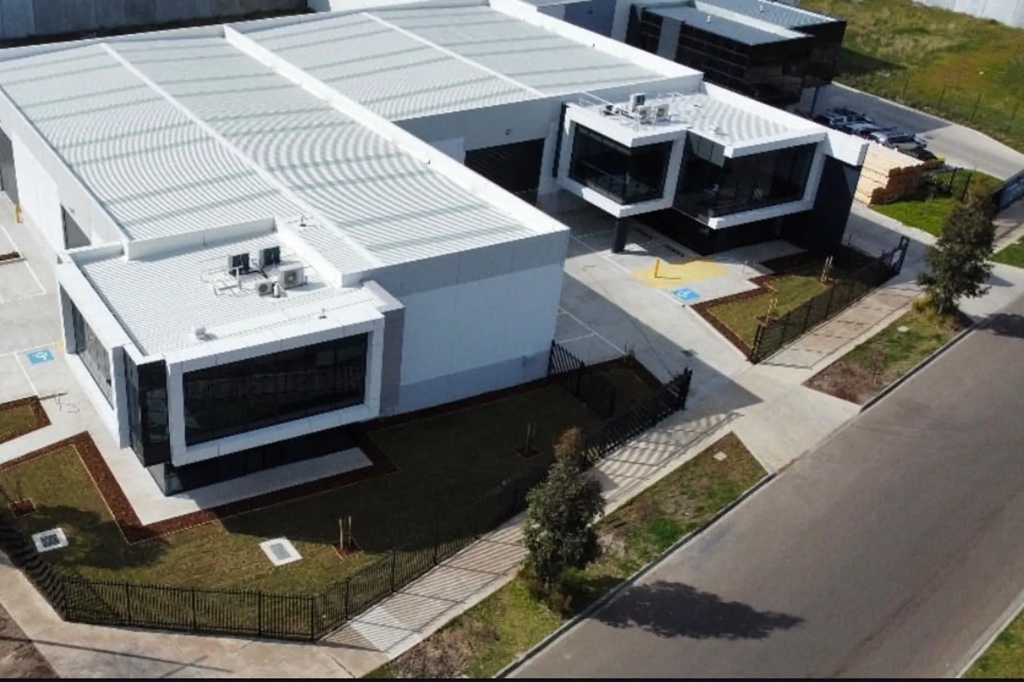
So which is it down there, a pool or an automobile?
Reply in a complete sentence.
I can see an automobile in this picture.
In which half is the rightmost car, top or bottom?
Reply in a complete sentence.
Seen from above, the rightmost car lies in the top half of the view.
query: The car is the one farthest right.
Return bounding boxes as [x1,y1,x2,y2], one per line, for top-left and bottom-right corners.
[874,124,945,159]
